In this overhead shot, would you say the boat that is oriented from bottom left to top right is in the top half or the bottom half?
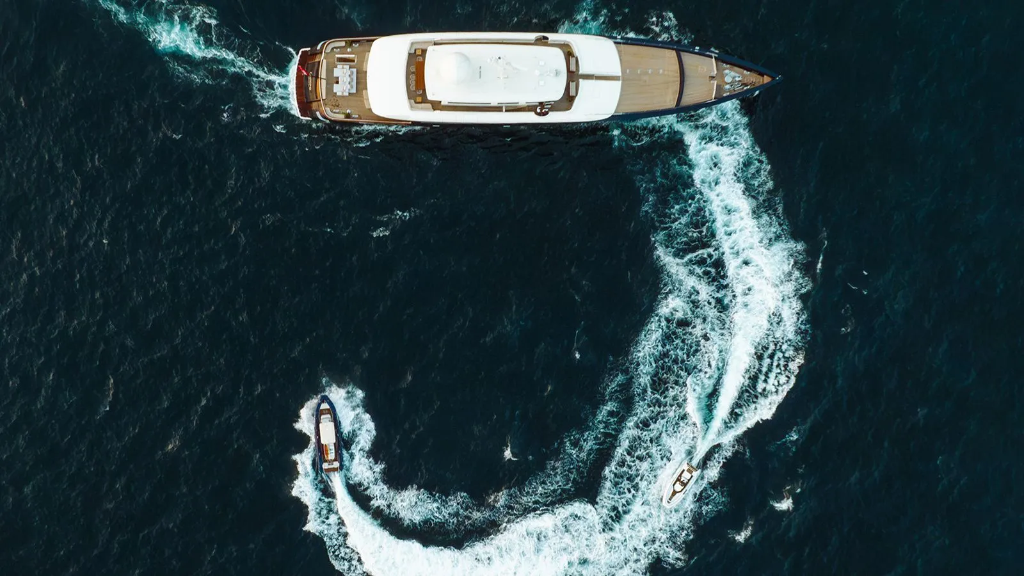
bottom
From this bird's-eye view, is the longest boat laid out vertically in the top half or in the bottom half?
bottom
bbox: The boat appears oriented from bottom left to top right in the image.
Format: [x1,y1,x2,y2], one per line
[663,460,701,508]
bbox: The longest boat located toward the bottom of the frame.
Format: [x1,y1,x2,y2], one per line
[315,394,344,474]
